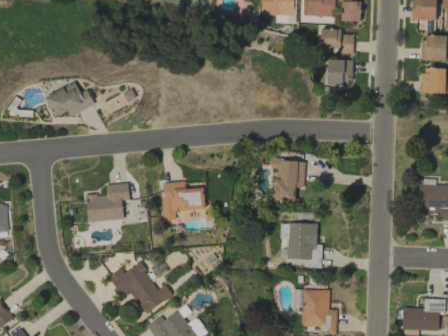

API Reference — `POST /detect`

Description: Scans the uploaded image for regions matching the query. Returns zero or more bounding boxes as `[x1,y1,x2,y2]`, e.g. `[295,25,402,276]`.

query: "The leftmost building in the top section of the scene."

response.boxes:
[6,95,34,118]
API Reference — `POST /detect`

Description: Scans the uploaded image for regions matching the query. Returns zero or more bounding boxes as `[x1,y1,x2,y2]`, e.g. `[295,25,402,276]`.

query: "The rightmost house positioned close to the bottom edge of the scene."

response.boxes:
[403,299,446,336]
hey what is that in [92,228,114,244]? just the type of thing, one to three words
swimming pool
